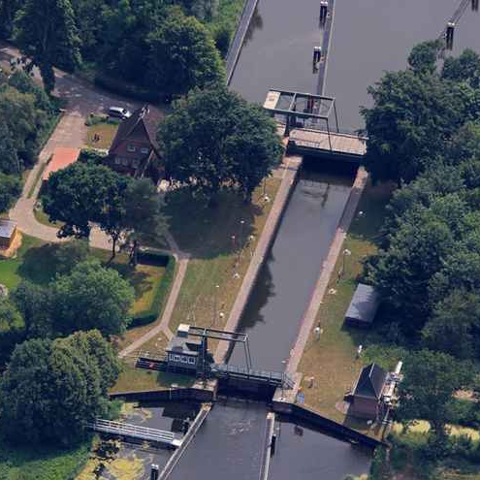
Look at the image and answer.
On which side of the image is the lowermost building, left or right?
right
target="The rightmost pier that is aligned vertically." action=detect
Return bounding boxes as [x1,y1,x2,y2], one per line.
[312,0,335,125]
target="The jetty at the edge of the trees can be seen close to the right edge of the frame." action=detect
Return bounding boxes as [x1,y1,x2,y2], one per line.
[431,0,475,52]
